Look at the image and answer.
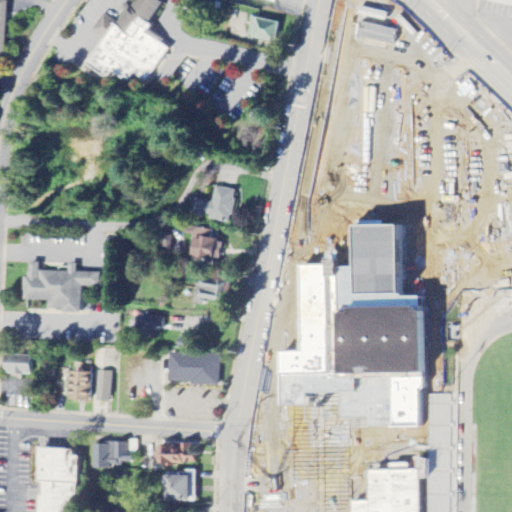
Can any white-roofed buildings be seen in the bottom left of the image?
Yes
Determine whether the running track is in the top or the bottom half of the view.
bottom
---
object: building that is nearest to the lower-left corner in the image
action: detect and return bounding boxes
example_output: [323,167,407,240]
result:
[35,447,78,512]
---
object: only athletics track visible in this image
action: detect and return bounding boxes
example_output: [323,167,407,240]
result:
[458,310,512,512]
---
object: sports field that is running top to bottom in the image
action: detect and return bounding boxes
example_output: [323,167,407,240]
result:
[474,330,512,512]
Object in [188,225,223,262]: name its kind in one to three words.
house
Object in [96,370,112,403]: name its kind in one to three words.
building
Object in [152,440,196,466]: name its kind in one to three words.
house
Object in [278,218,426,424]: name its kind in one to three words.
building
